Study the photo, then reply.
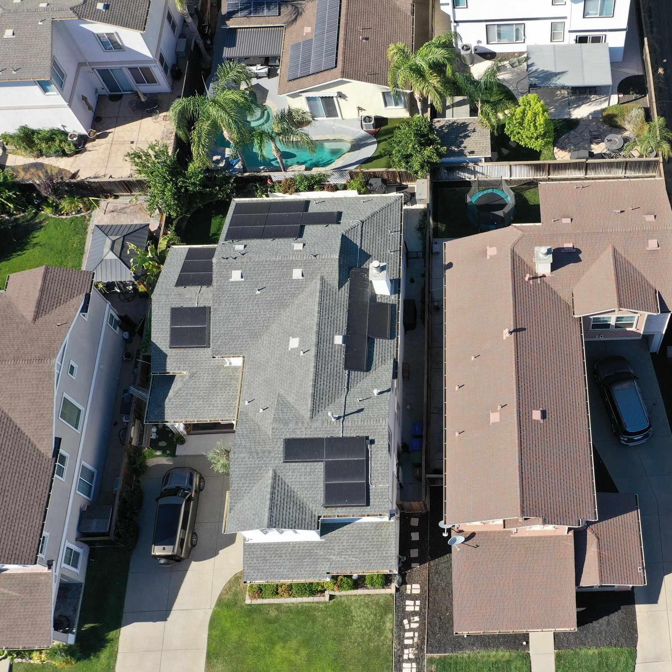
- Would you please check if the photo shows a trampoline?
Yes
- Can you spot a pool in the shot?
Yes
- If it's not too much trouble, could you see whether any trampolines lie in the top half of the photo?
Yes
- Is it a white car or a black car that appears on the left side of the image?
black car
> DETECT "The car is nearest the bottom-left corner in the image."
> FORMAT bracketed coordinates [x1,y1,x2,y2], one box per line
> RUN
[144,467,202,565]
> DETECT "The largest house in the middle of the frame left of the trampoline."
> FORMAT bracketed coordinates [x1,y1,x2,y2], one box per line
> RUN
[142,194,405,586]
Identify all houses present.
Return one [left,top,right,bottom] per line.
[440,0,639,62]
[442,177,672,638]
[0,265,121,653]
[221,0,415,120]
[0,0,191,134]
[142,194,405,586]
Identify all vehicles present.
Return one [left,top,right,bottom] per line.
[596,358,652,446]
[144,467,202,565]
